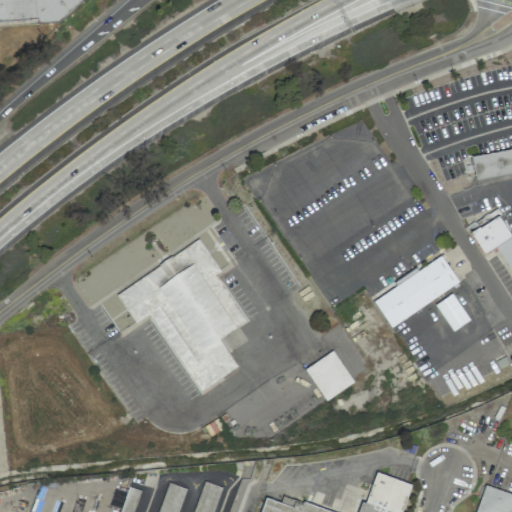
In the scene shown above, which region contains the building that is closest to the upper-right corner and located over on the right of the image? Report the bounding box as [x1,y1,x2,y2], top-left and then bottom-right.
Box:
[474,148,512,180]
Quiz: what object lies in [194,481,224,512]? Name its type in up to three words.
building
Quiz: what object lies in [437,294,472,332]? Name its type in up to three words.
building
